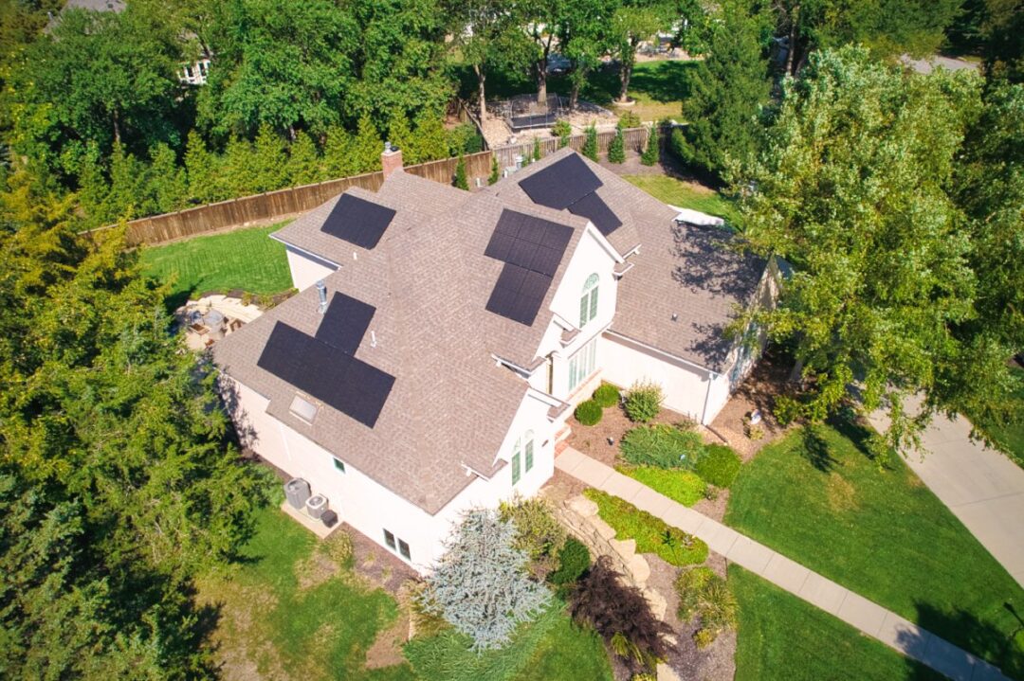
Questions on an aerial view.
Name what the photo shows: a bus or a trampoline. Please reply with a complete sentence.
The image shows a trampoline.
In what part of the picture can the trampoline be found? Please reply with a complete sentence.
The trampoline is located in the top region of the scene.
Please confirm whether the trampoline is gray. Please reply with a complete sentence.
Yes, gray is the color of the trampoline.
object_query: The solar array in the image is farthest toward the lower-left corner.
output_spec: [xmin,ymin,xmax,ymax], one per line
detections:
[254,290,393,426]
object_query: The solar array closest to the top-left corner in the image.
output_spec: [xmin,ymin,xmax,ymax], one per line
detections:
[319,191,394,247]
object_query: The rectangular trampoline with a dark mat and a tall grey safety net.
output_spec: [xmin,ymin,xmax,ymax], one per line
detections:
[508,95,566,136]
